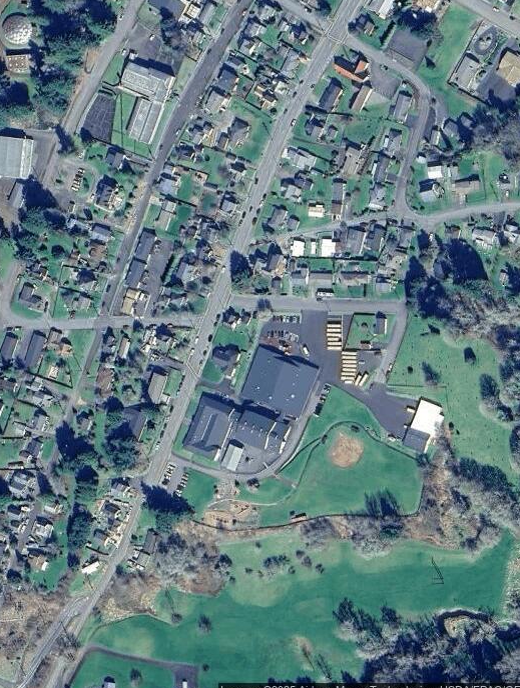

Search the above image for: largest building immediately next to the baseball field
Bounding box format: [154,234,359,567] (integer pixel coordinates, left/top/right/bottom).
[184,344,323,460]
